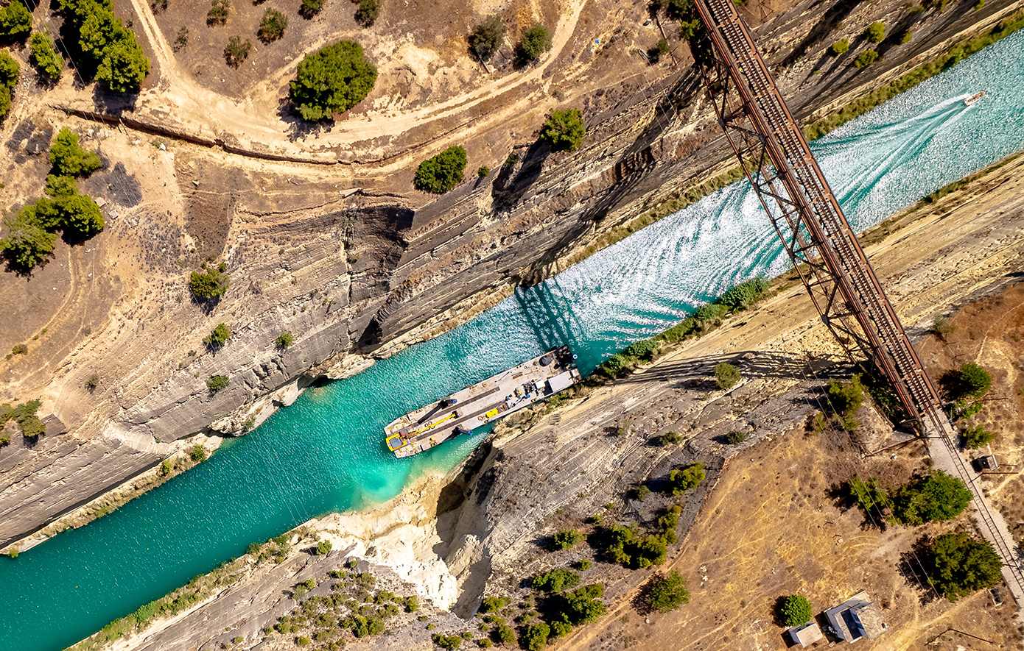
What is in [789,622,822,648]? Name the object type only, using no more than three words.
shed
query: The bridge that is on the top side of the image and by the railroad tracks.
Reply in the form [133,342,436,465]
[698,0,942,416]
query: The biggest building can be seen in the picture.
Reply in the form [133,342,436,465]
[816,588,888,644]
